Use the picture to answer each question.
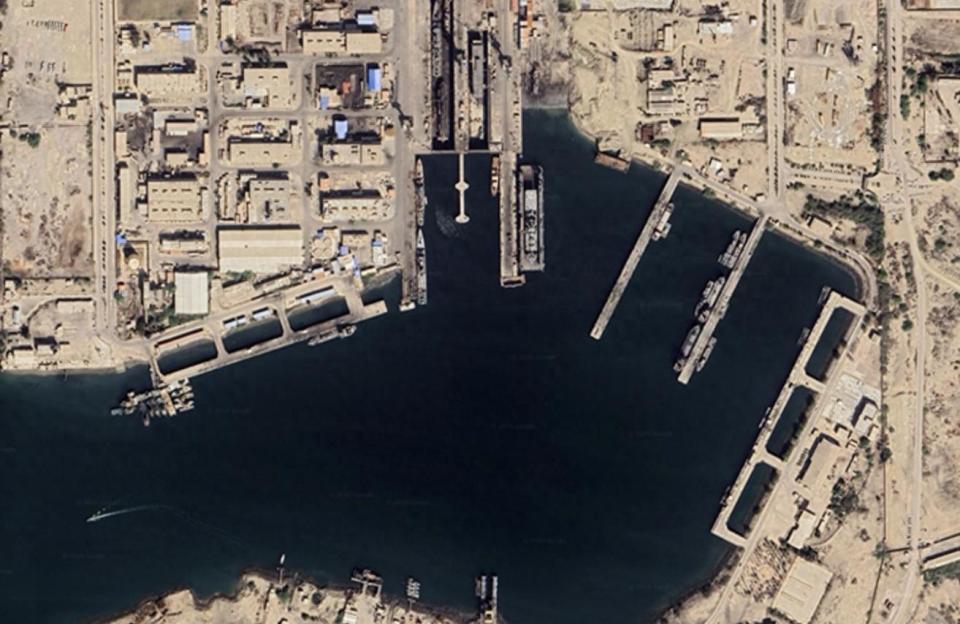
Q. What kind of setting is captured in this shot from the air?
port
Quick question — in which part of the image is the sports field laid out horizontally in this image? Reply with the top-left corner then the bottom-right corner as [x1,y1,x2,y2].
[117,0,197,22]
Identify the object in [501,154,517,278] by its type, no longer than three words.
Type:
pier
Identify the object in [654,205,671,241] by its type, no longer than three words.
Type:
ship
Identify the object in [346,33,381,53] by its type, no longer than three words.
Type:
building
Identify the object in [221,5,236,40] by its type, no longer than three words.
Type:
shed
